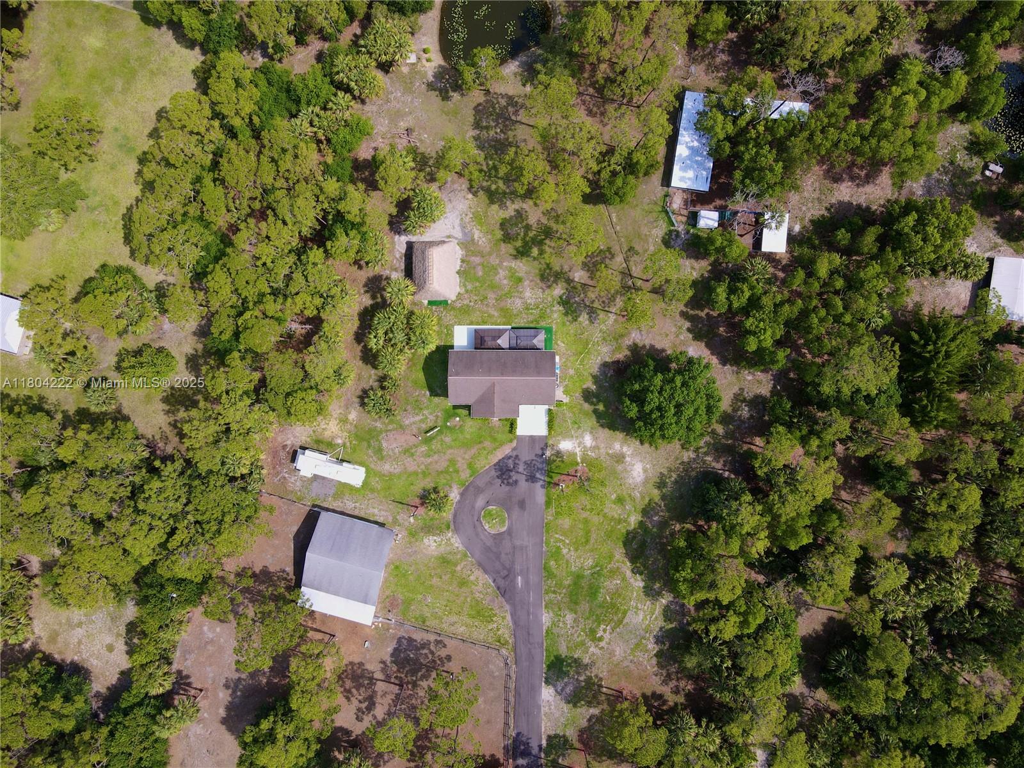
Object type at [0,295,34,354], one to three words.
building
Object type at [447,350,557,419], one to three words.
house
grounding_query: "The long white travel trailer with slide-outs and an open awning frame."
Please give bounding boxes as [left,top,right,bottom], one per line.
[294,448,371,485]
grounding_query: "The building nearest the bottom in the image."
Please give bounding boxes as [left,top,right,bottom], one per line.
[299,508,396,625]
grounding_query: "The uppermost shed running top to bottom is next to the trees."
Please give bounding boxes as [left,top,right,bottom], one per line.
[667,91,721,195]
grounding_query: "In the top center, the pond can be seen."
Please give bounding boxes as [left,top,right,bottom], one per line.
[439,0,552,72]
